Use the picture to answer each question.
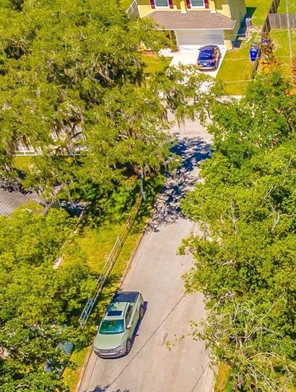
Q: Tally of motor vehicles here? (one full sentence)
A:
In total, 2 motor vehicles can be seen.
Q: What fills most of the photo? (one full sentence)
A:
What you mostly see from above here is trees.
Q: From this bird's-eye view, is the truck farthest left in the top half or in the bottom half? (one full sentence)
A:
You can find the truck farthest left in the bottom half.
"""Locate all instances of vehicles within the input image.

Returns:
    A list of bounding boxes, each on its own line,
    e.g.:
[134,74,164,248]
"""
[94,285,144,351]
[196,45,220,66]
